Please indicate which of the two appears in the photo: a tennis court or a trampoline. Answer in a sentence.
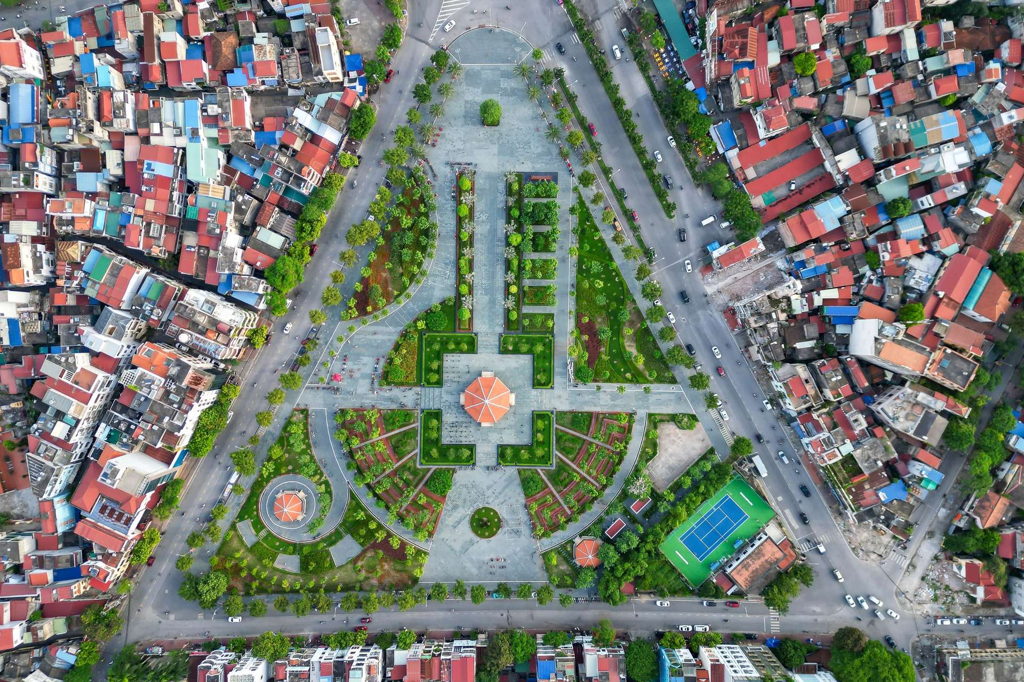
There is a tennis court in the scene.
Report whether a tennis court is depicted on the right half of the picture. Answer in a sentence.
Yes, I can see a tennis court on the right half of the picture.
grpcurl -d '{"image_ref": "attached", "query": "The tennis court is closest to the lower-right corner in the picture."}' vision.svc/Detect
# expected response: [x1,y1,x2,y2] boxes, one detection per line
[659,474,776,588]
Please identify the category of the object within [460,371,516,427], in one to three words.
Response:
building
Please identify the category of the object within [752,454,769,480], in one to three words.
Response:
vehicle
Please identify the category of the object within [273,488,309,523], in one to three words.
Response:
building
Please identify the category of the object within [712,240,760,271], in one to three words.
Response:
house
